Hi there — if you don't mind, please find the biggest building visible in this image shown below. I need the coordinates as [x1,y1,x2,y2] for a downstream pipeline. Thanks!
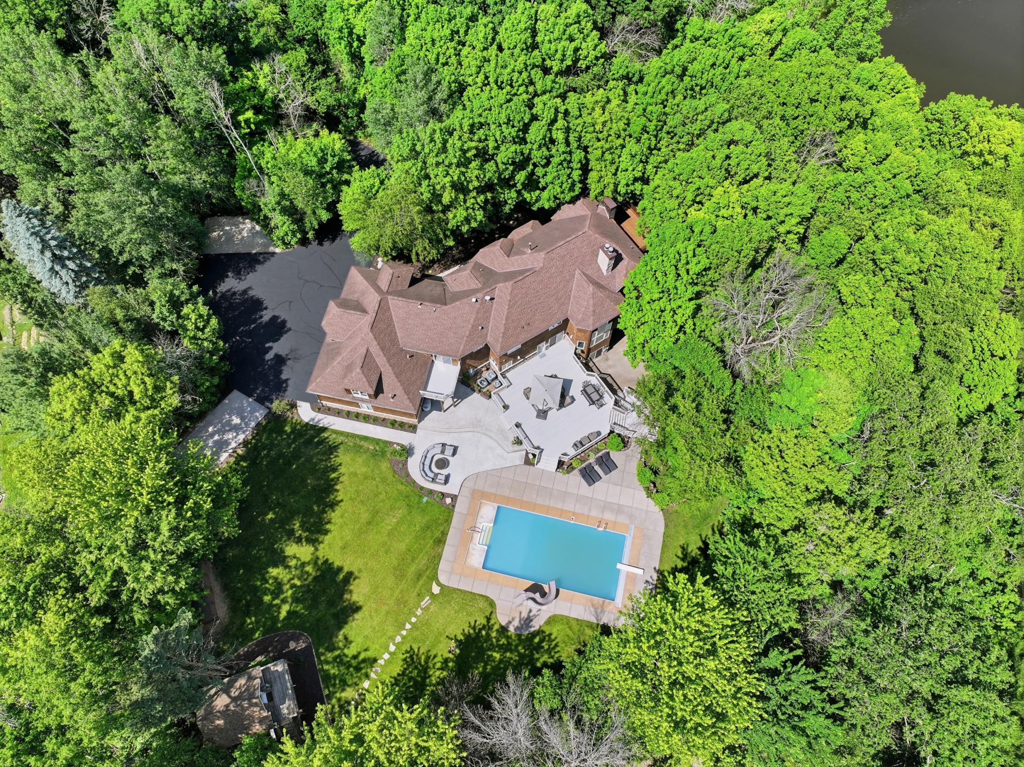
[306,195,645,424]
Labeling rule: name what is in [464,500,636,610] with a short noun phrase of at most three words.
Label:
swimming pool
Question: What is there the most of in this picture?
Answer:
trees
